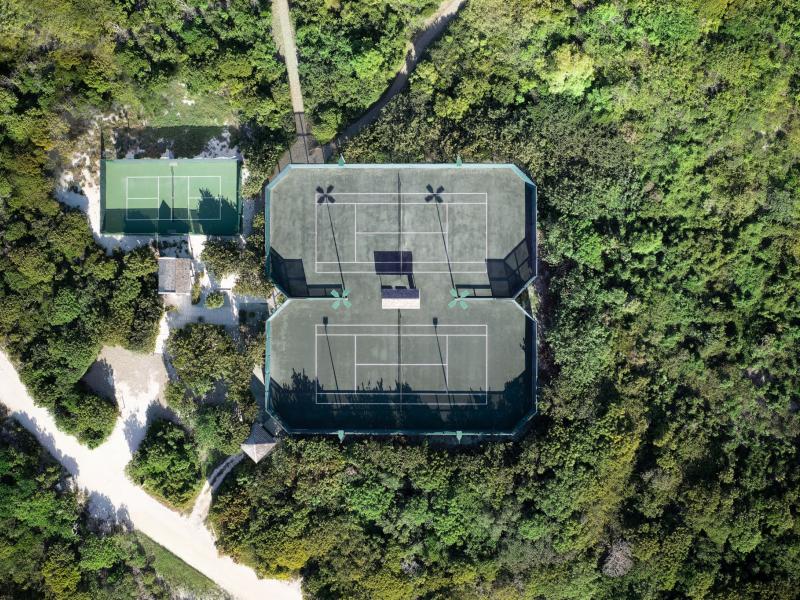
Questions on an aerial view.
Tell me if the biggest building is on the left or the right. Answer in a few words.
left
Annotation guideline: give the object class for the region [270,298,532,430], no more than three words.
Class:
tennis court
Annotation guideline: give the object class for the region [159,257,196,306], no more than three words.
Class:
building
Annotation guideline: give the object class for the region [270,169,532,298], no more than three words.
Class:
tennis court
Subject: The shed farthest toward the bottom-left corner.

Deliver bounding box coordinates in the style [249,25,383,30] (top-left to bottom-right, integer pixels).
[241,424,278,462]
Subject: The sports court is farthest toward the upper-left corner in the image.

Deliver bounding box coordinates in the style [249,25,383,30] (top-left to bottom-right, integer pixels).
[107,162,237,237]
